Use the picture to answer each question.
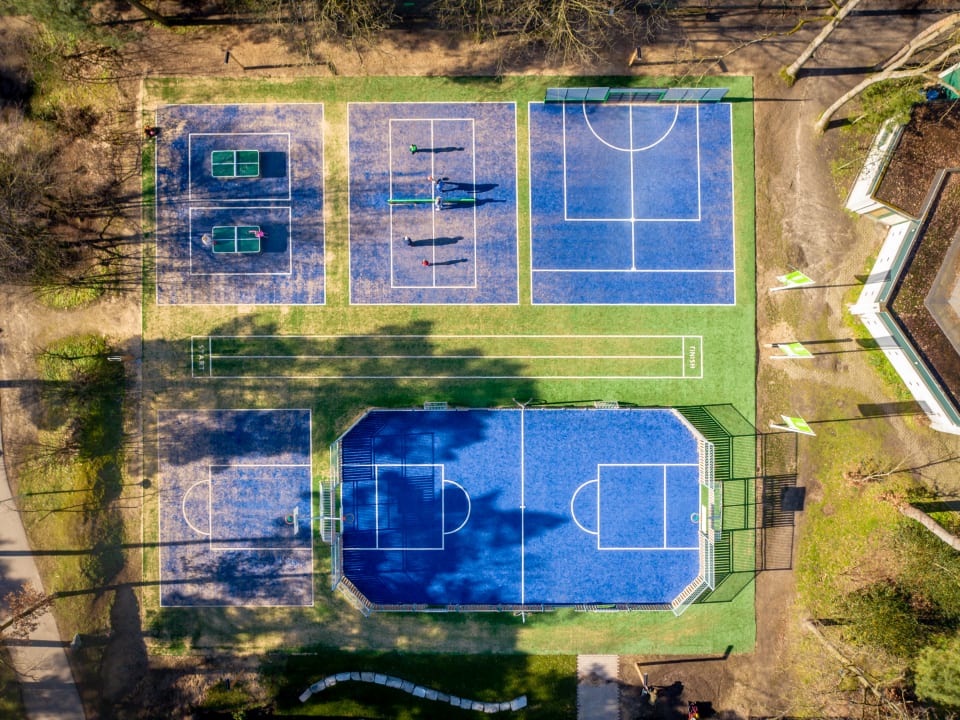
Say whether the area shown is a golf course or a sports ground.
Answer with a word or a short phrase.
sports ground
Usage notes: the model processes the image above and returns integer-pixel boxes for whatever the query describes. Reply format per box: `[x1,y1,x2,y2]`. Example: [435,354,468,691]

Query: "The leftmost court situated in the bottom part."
[158,409,314,608]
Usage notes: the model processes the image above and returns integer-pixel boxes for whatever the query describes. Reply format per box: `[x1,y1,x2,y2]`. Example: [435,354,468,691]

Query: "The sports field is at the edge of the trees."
[142,76,757,655]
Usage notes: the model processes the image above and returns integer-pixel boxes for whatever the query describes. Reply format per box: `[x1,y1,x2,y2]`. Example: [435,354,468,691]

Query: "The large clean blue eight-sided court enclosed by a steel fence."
[332,407,712,609]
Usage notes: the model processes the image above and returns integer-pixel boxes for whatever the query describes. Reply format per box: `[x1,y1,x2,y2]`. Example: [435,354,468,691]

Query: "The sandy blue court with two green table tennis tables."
[156,102,326,305]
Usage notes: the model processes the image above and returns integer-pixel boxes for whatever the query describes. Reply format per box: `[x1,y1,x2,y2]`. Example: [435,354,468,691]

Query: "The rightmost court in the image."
[530,102,736,305]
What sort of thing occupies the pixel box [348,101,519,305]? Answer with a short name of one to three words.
sports court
